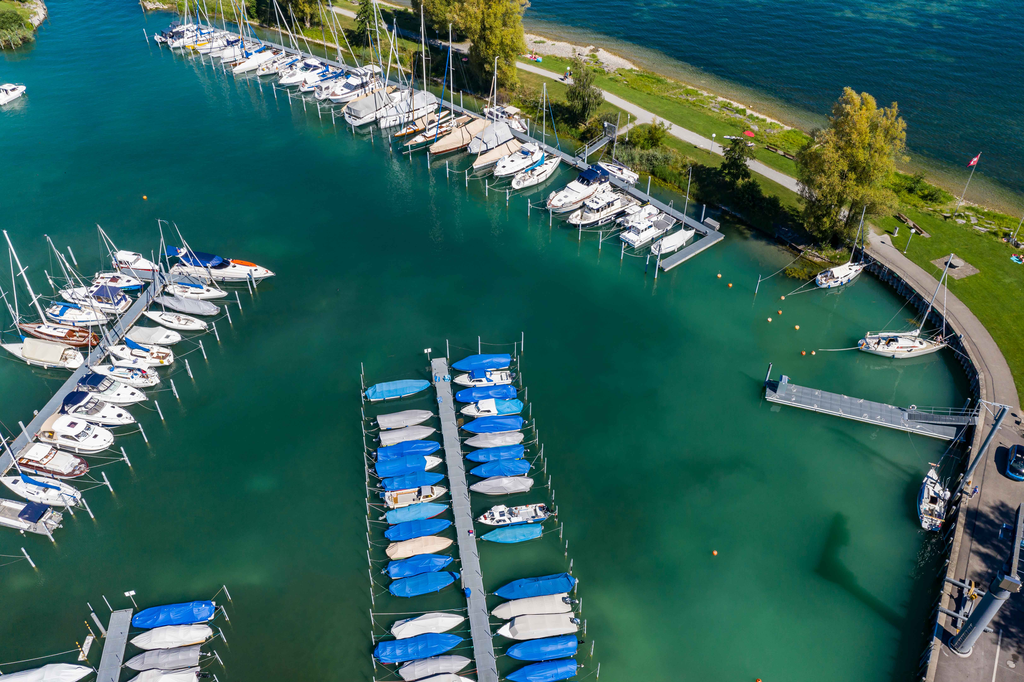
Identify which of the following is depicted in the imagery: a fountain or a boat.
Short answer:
boat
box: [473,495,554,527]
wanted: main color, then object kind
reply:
white boat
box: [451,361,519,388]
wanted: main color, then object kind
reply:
white boat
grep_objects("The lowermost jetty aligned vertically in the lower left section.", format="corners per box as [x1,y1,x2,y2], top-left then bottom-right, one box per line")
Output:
[97,608,135,682]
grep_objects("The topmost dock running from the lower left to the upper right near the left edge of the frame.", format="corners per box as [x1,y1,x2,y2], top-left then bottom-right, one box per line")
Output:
[0,282,163,484]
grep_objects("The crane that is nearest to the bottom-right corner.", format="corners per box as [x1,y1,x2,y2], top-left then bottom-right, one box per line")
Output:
[948,489,1024,657]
